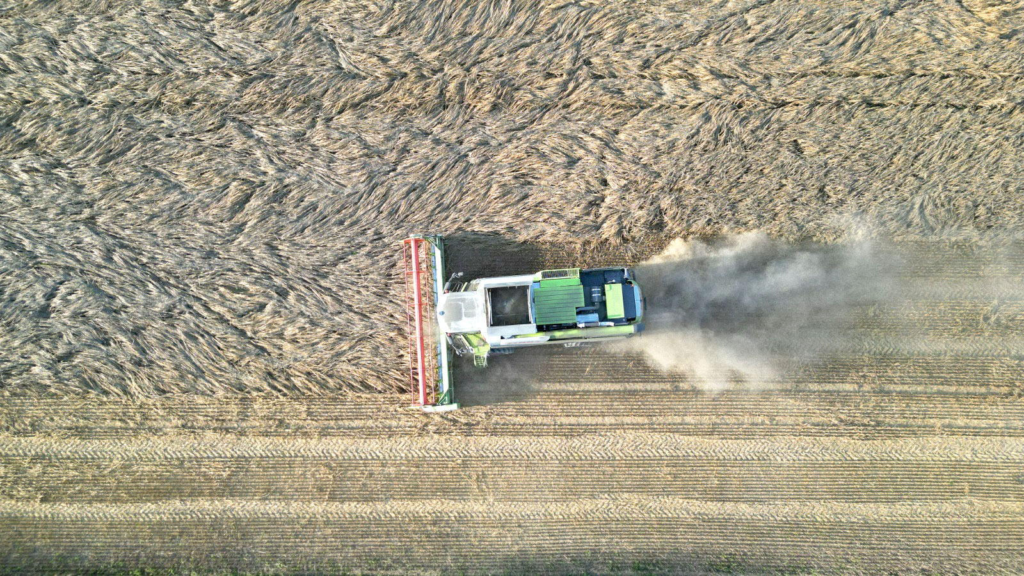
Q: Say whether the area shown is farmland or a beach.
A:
farmland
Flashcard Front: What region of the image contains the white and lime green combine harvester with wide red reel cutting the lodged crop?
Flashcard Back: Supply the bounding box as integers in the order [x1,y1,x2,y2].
[400,233,646,409]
